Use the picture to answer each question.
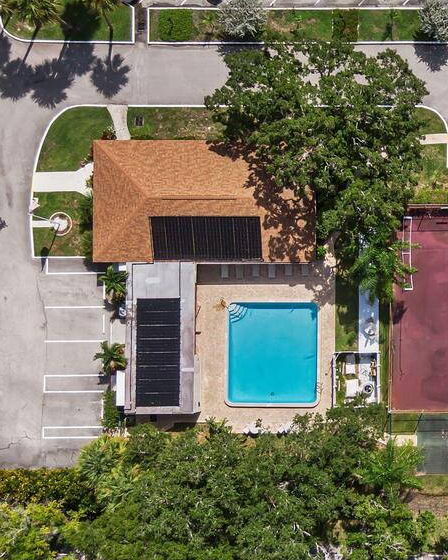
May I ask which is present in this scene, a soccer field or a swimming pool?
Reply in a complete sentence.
The image shows a swimming pool.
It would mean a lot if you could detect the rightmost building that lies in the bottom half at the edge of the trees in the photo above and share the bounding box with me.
[126,264,201,414]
